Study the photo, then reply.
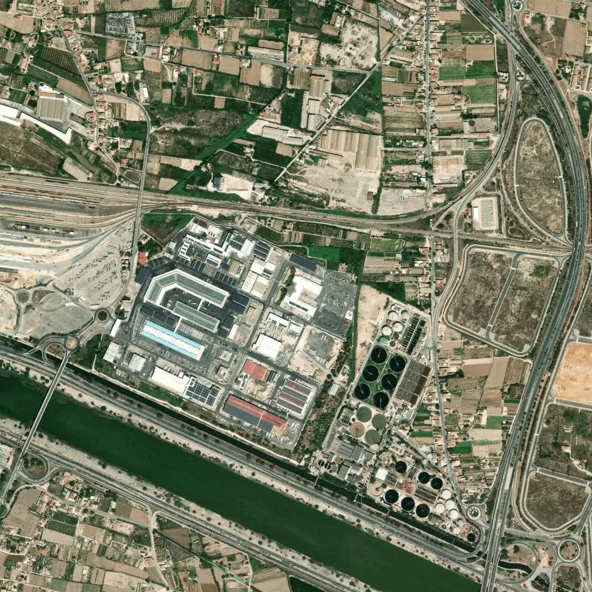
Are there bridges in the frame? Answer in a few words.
Yes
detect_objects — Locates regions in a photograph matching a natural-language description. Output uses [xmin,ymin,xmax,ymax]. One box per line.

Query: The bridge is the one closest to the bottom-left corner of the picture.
[11,337,74,484]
